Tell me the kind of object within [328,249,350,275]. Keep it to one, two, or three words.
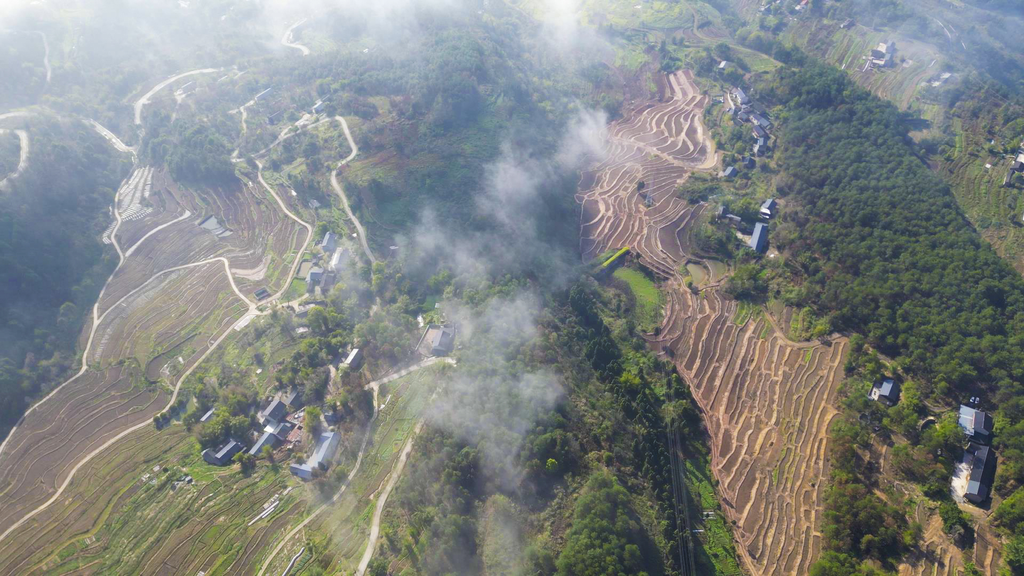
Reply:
house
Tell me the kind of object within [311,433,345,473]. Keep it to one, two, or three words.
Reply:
house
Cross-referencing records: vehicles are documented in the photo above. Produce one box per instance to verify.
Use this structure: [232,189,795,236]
[973,397,982,405]
[968,396,977,405]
